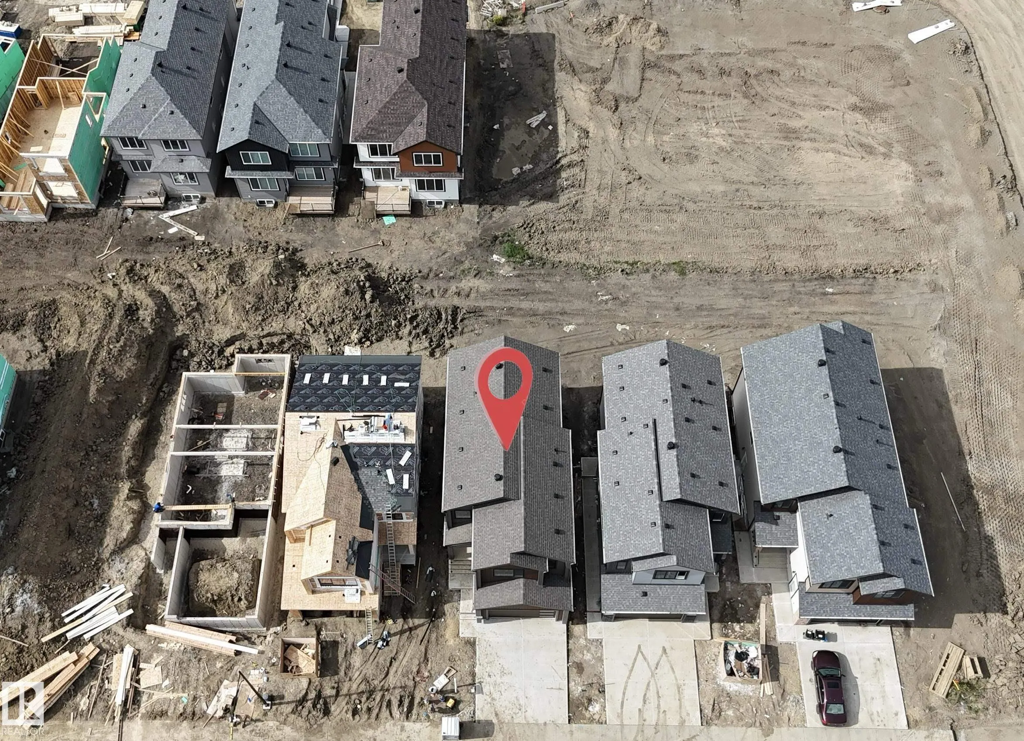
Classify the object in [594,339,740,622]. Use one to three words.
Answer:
house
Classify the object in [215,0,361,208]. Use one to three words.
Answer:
house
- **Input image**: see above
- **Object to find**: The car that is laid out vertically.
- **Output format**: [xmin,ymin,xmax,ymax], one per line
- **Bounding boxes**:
[815,649,853,726]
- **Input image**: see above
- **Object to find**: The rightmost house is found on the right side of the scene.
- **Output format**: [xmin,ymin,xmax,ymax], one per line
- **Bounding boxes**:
[732,320,932,624]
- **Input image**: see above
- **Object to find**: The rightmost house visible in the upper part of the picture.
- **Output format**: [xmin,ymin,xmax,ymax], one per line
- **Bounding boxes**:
[350,0,468,210]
